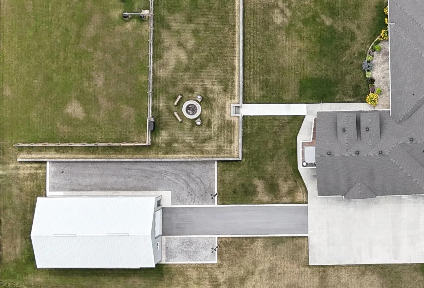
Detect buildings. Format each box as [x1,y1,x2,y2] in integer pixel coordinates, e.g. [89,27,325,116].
[33,194,164,270]
[315,0,424,200]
